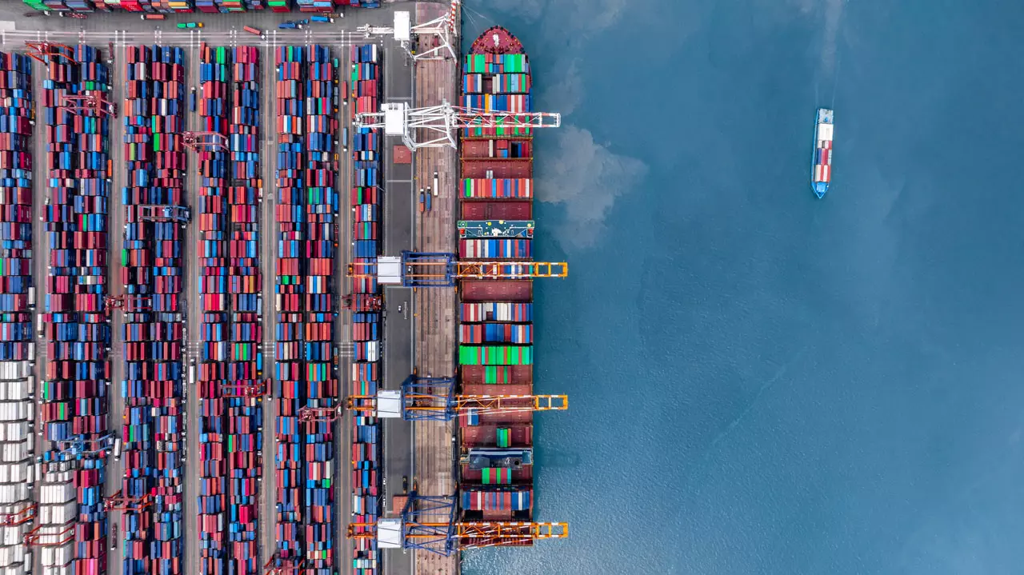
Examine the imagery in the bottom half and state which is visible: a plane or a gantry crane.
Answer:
gantry crane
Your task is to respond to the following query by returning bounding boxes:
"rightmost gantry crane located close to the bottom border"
[348,485,568,555]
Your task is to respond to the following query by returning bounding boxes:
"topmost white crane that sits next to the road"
[357,0,463,76]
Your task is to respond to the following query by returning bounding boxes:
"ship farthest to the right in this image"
[810,108,834,199]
